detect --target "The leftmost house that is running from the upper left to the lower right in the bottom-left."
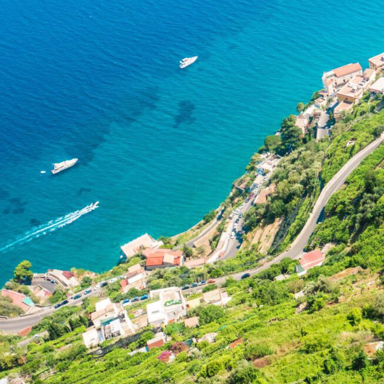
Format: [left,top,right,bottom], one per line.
[3,287,36,316]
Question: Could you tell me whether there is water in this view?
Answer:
Yes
